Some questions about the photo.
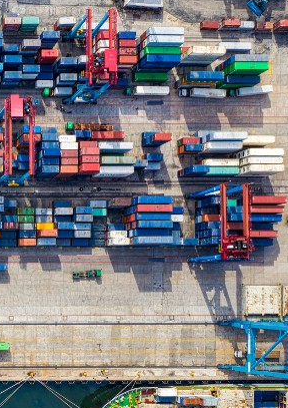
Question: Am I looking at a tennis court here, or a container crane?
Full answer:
Of the two, only a container crane appears.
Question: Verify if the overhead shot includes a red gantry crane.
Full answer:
Yes, looking at the shot, I can spot a red gantry crane.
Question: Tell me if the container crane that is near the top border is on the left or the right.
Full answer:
The container crane that is near the top border is on the left side of the image.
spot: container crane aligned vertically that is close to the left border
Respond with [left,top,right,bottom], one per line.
[0,88,39,184]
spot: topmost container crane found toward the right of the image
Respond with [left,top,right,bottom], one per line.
[184,184,254,269]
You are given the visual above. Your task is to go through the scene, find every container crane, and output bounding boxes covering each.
[220,317,288,383]
[62,7,119,103]
[0,88,39,184]
[184,184,254,269]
